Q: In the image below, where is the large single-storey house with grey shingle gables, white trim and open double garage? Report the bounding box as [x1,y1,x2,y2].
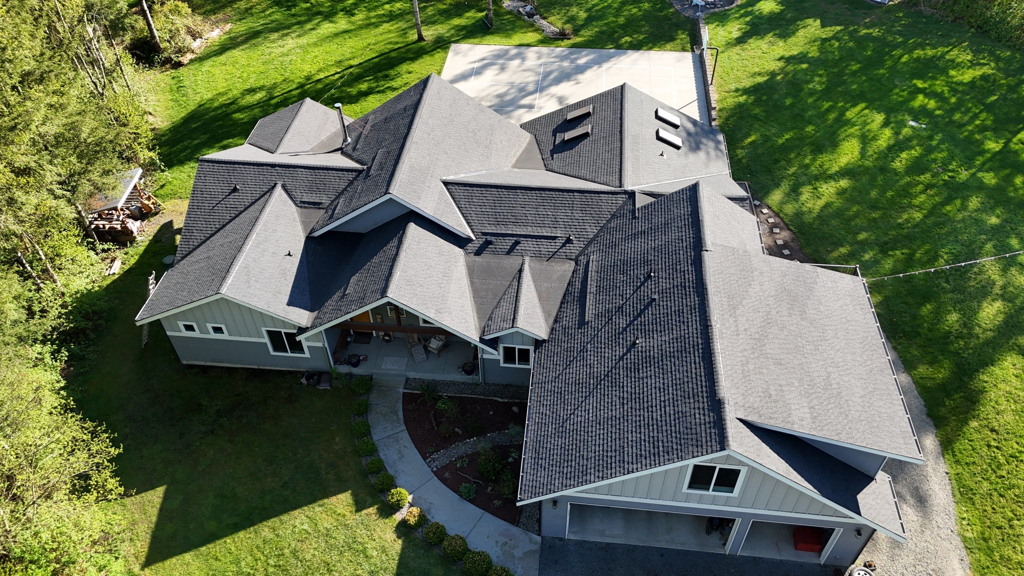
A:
[135,72,928,565]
